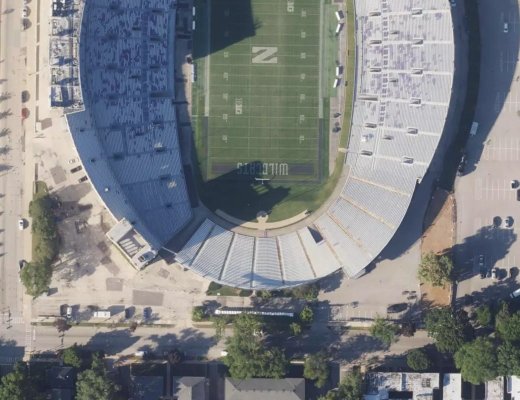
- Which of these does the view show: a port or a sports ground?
sports ground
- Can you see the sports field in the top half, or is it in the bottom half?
top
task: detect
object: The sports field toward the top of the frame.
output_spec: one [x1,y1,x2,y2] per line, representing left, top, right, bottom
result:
[192,0,338,223]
